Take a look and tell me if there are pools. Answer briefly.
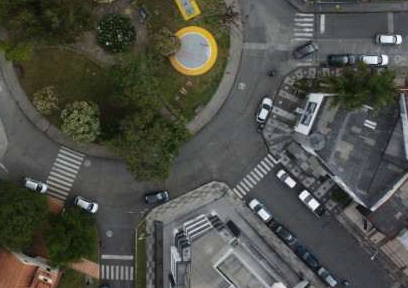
No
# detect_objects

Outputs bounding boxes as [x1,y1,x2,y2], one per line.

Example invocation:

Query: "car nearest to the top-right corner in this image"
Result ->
[376,33,401,45]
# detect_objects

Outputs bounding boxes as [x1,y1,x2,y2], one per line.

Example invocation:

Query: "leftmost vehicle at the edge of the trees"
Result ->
[24,177,49,193]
